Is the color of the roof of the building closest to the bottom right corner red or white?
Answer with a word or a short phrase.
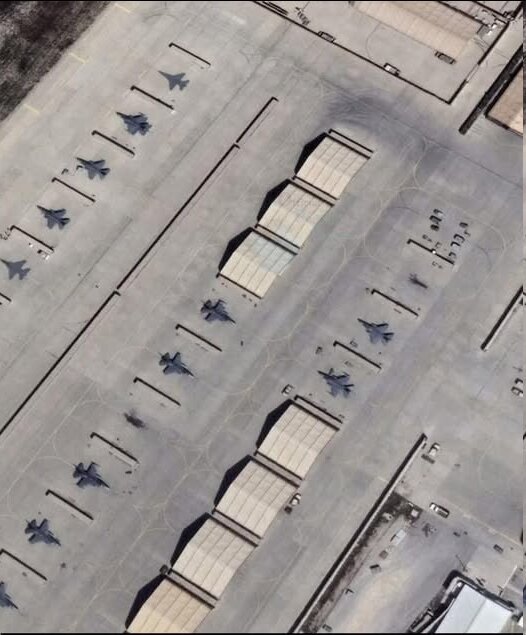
white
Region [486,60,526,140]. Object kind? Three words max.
building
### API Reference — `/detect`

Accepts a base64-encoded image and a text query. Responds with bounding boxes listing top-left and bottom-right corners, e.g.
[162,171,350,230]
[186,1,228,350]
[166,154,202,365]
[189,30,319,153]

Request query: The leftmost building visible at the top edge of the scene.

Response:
[337,0,484,62]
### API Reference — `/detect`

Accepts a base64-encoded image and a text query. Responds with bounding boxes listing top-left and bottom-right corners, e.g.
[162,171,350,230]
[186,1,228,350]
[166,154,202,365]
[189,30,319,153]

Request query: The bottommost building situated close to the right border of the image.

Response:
[434,584,513,635]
